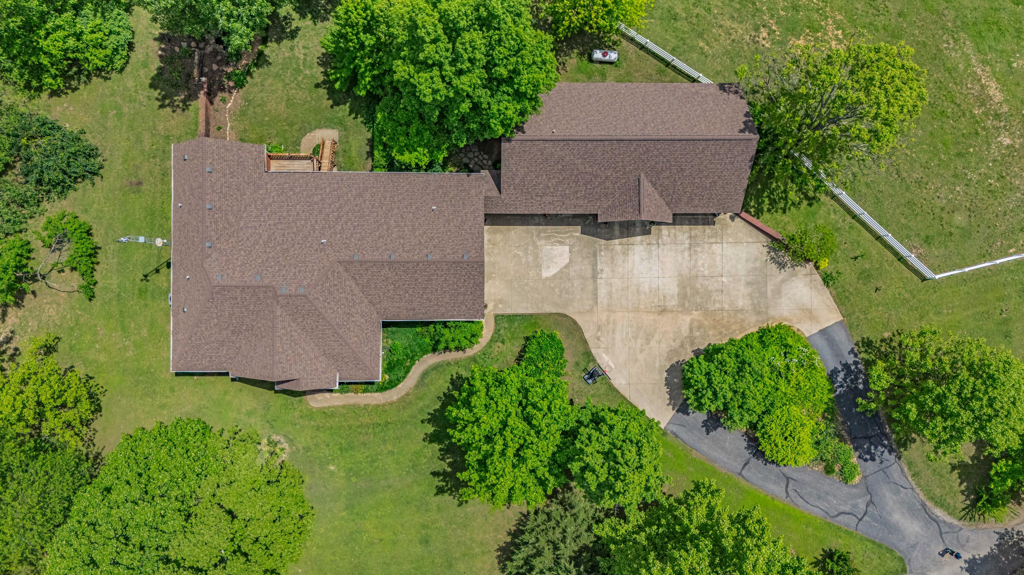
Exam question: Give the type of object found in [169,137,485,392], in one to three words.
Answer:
house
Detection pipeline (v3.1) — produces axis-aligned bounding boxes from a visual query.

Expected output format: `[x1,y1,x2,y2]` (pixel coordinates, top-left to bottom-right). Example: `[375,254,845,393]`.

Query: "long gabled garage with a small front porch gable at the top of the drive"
[481,82,760,222]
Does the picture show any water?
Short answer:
No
